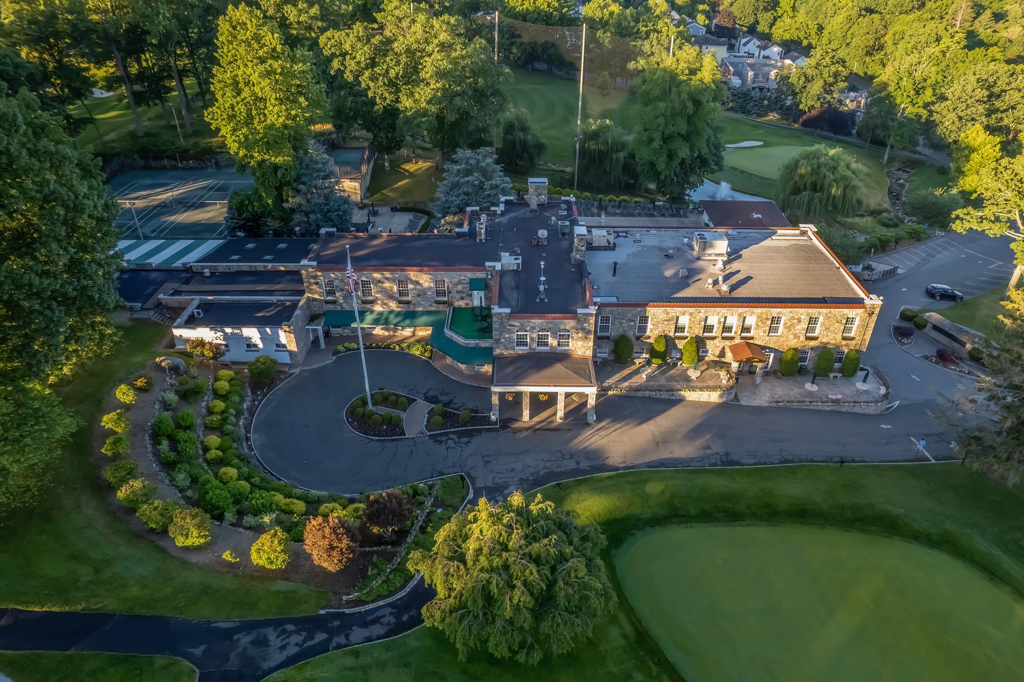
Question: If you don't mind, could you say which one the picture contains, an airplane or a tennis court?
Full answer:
Visible in the photo is a tennis court.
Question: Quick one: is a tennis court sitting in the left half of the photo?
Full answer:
Yes, a tennis court is visible in the left half of the photo.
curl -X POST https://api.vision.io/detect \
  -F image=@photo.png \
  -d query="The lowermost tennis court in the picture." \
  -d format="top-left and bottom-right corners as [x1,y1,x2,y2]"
[88,171,273,243]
